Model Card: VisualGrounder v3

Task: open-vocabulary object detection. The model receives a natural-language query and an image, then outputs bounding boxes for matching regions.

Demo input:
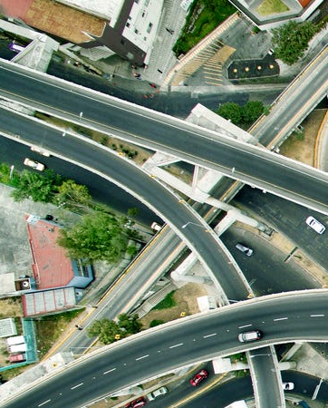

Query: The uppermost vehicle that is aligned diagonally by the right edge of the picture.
[307,216,327,234]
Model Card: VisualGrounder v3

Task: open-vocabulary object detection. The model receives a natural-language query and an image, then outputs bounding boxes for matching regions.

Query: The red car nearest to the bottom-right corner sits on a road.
[190,368,210,386]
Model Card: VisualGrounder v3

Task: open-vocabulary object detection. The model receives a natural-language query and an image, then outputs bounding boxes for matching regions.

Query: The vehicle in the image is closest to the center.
[146,219,166,233]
